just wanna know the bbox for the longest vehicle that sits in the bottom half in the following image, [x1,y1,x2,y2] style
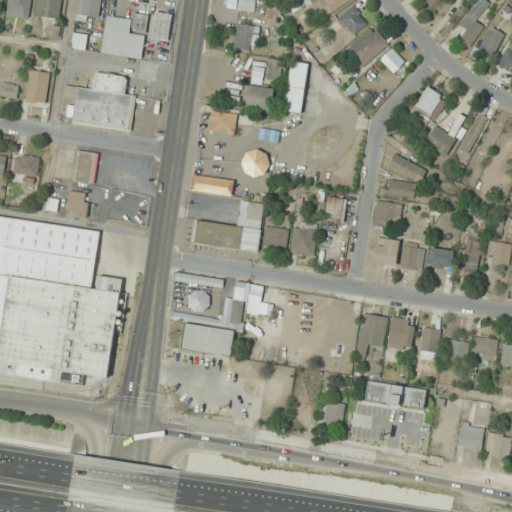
[124,430,165,444]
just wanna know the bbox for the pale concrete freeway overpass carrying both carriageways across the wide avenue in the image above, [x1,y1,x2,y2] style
[68,456,182,512]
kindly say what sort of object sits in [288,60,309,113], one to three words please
shed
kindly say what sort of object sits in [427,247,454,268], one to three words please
house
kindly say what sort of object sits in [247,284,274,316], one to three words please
building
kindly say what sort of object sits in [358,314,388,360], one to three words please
house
